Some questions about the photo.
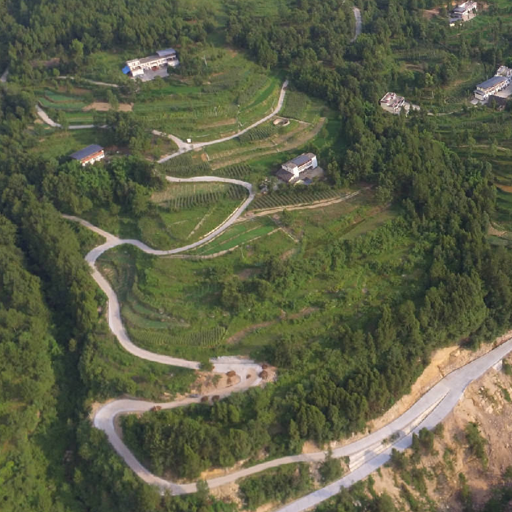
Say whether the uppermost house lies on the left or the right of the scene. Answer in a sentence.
It is on the right.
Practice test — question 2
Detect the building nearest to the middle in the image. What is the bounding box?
[268,150,315,187]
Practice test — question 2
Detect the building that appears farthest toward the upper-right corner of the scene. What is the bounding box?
[446,2,475,24]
